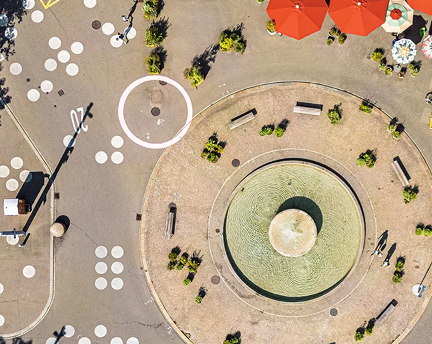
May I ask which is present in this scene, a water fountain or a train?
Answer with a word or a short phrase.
water fountain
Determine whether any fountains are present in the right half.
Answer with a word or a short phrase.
Yes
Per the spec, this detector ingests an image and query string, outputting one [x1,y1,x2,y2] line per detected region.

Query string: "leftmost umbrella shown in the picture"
[266,0,327,41]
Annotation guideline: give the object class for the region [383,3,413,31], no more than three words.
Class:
umbrella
